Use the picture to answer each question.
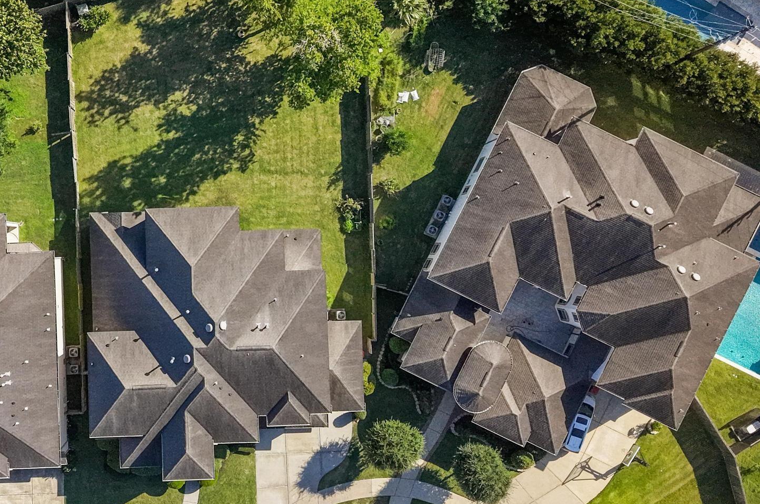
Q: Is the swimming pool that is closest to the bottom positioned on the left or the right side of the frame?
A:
right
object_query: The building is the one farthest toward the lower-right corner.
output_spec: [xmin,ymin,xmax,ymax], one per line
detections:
[389,64,760,455]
